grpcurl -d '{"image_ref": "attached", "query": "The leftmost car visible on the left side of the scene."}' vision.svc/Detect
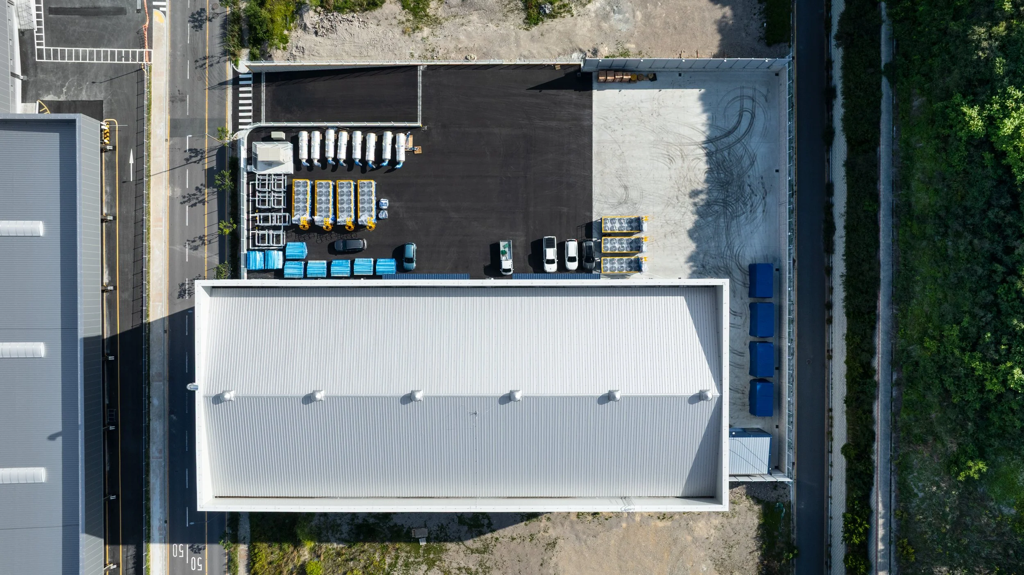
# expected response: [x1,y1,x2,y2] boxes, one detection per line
[335,238,367,254]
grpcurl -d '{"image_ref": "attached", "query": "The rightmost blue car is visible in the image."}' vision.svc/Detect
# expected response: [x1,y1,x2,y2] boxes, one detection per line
[402,242,417,271]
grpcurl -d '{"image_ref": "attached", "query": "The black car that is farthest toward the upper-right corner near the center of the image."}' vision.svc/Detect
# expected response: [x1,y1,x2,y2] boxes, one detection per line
[582,239,595,270]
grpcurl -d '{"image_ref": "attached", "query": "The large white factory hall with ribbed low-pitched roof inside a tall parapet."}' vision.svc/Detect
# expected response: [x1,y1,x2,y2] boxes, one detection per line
[179,273,729,520]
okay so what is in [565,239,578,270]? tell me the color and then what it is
white vehicle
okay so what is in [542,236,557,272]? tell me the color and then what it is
white vehicle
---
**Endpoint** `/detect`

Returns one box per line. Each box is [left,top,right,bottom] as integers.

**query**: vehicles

[500,240,514,275]
[402,242,417,271]
[335,238,367,254]
[582,239,595,270]
[565,239,578,270]
[542,236,557,272]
